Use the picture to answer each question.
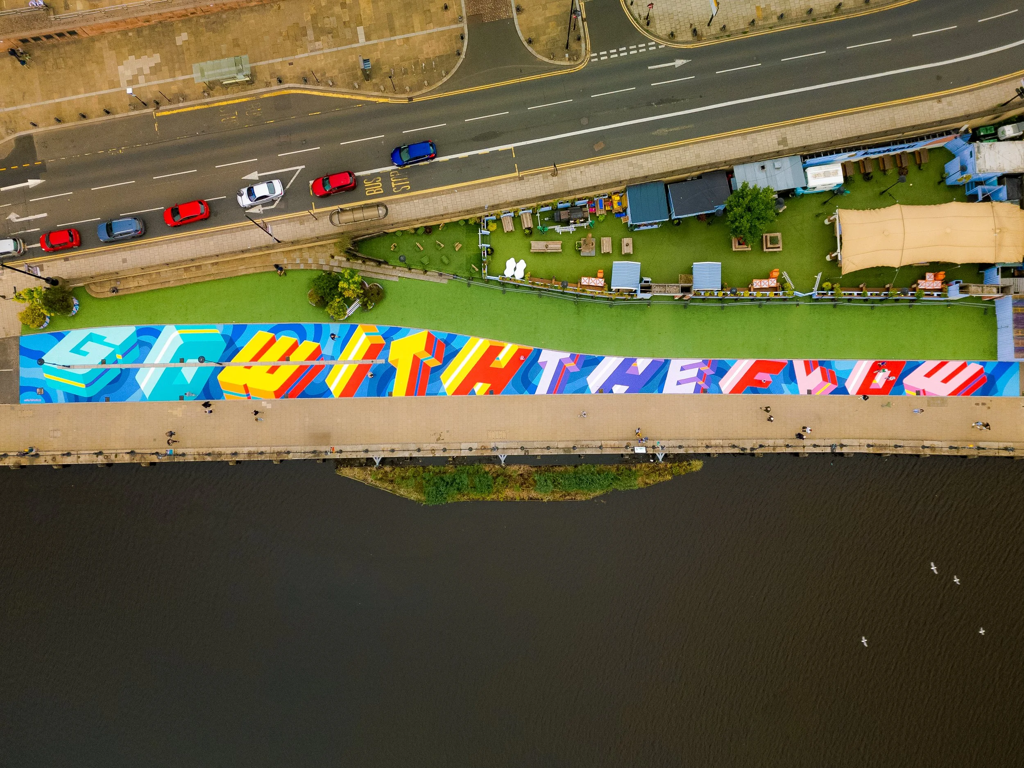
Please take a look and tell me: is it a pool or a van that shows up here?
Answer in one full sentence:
The image shows a van.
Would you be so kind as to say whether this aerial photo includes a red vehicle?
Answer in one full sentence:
Yes, the photo shows a red vehicle.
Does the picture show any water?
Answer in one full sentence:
Yes, water can be seen from above here.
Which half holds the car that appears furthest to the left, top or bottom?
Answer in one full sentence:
Seen from above, the car that appears furthest to the left lies in the top half of the view.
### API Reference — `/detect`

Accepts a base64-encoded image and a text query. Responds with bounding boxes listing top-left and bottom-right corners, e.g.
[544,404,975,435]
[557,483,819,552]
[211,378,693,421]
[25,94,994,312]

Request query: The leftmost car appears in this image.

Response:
[0,235,27,259]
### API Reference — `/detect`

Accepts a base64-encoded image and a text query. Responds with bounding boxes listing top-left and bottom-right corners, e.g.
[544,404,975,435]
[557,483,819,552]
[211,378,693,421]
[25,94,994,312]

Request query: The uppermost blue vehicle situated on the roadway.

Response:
[392,141,436,168]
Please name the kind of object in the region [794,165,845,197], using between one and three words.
van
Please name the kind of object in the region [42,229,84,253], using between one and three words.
car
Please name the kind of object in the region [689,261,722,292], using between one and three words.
shed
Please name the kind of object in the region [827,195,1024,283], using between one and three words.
tent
